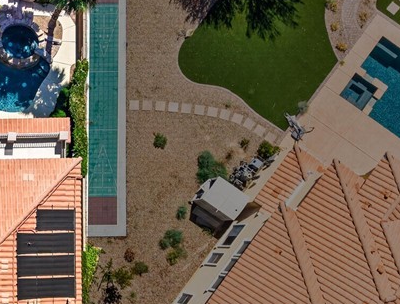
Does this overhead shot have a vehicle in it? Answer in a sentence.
No, the photo shows no vehicle.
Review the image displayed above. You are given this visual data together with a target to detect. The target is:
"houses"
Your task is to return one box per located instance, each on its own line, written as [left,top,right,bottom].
[174,144,400,304]
[0,116,84,304]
